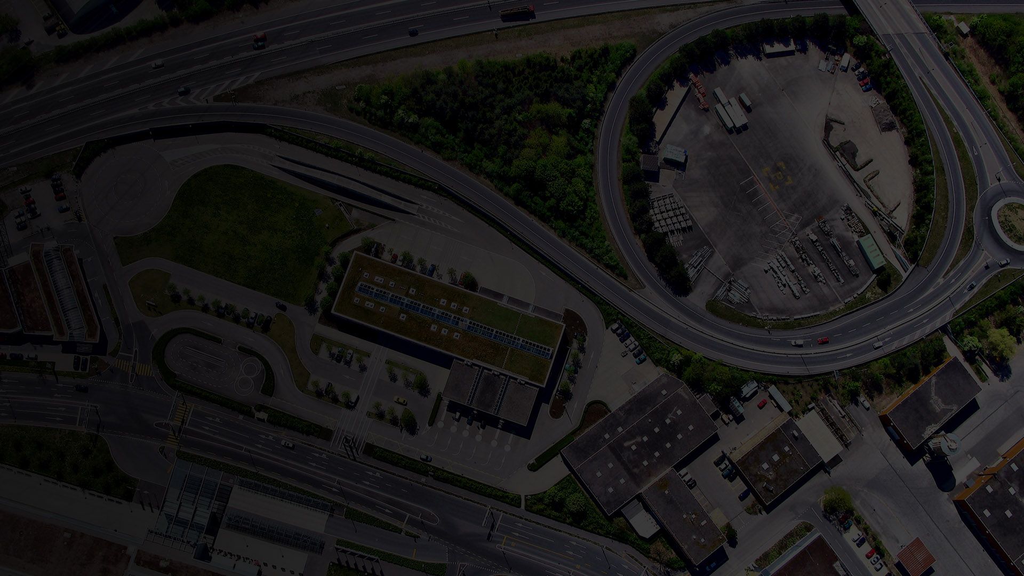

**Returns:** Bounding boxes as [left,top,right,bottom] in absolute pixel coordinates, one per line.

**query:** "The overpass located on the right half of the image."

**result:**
[852,0,1024,185]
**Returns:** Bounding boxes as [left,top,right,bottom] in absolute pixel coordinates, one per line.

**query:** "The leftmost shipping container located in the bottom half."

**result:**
[766,388,792,413]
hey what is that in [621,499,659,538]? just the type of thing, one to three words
shed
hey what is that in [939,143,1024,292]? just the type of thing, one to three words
roundabout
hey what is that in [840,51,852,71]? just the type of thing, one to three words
vehicle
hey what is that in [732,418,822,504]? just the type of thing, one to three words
building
